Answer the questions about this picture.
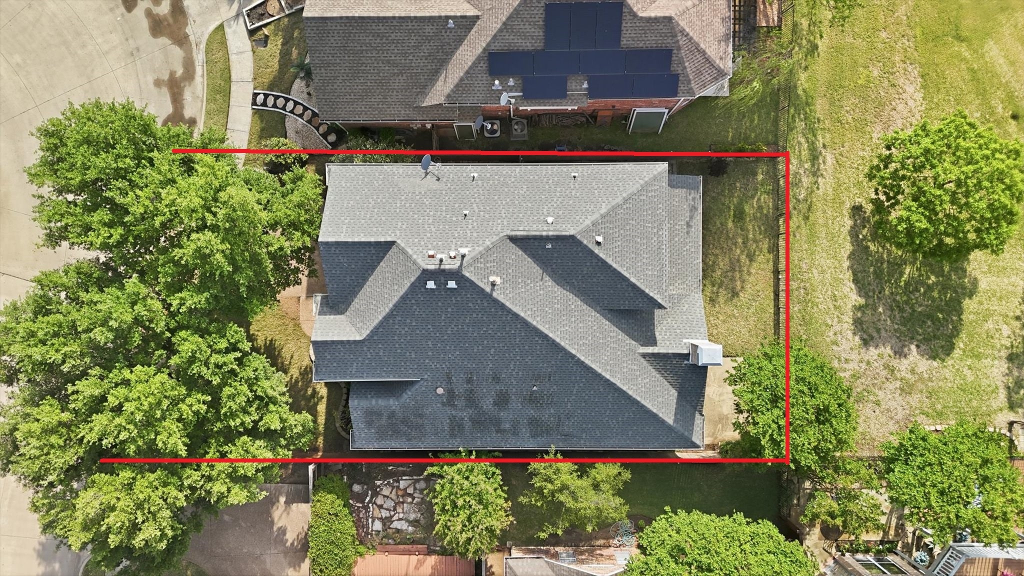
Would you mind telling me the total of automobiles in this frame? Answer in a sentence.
The picture shows no automobiles.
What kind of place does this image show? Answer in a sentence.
It's a residential area.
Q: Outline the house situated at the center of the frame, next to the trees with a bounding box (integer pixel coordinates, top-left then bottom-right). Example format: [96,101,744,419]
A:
[312,161,722,450]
